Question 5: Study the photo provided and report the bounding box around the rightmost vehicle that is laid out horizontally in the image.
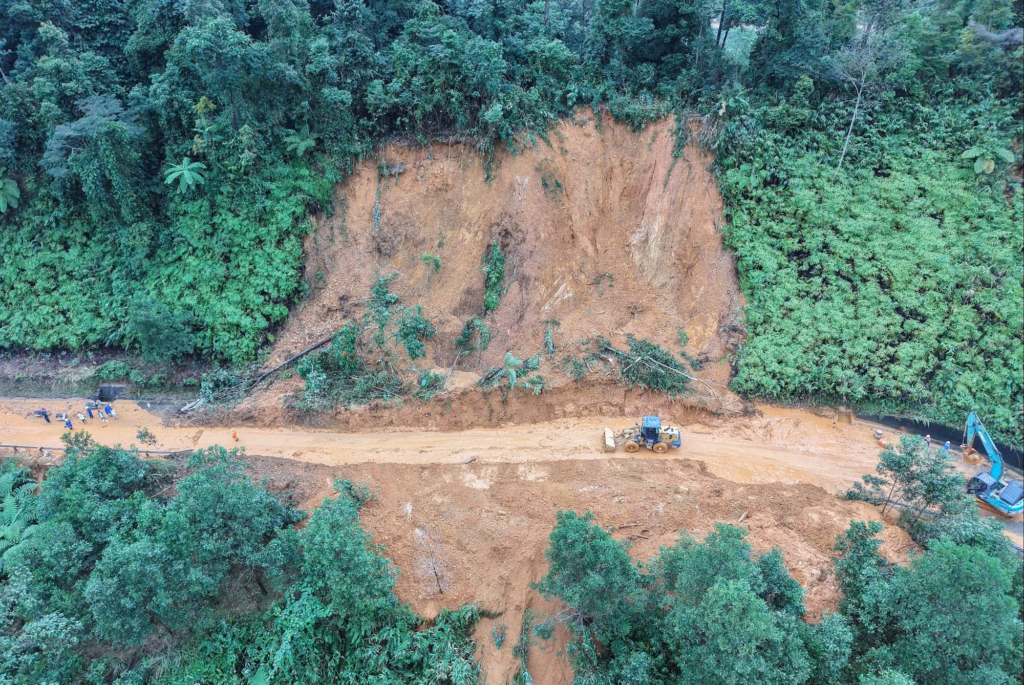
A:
[603,417,683,456]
